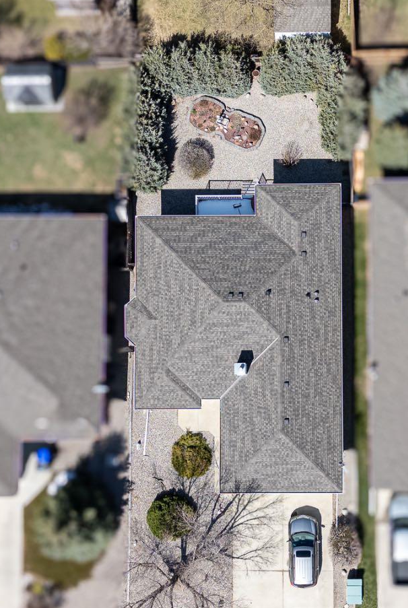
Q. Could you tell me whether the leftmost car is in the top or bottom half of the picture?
bottom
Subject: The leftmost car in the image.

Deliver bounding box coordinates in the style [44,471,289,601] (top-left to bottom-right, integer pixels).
[284,505,324,590]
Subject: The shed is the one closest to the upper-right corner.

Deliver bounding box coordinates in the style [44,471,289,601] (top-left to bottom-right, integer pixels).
[274,0,330,47]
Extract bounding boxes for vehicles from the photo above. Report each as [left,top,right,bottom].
[384,492,408,589]
[284,505,324,590]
